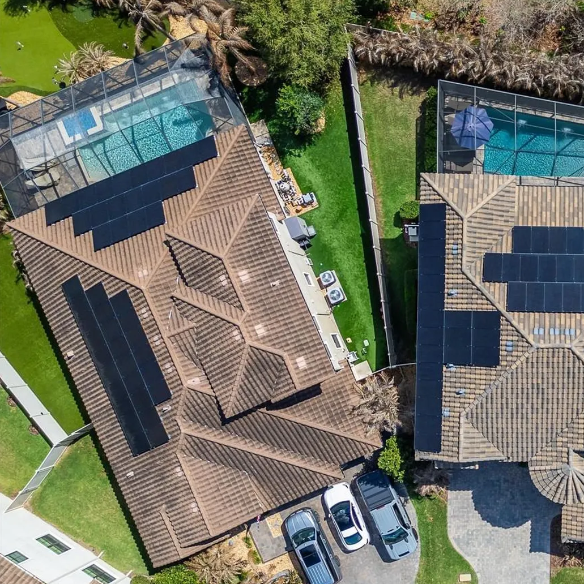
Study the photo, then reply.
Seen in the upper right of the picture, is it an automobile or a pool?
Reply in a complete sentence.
The feature located in the upper right of the picture is a pool.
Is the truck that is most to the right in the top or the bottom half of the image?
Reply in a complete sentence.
It is in the bottom half that the truck that is most to the right appears.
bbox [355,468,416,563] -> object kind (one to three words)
truck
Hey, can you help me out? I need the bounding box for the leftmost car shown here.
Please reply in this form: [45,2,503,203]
[287,504,342,584]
